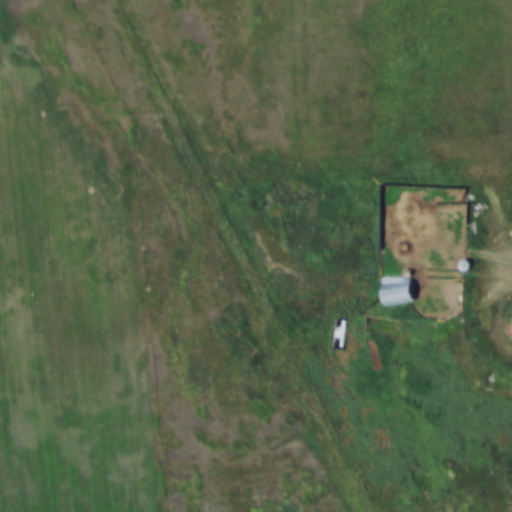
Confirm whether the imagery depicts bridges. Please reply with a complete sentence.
No, the picture doesn't show any bridge.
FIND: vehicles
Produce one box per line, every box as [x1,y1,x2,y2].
[334,320,348,350]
